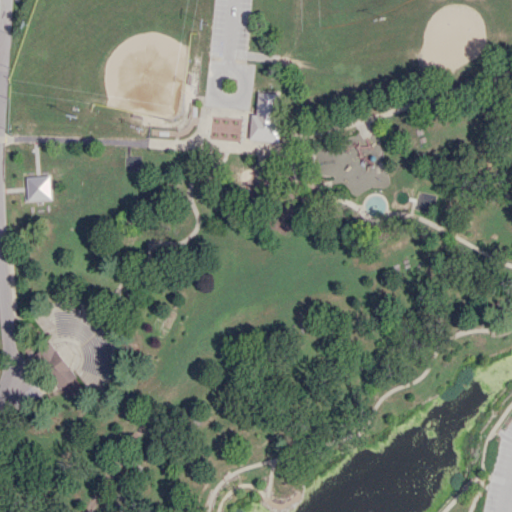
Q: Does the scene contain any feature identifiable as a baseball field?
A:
Yes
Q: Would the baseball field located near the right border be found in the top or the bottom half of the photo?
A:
top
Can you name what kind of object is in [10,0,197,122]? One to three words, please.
baseball field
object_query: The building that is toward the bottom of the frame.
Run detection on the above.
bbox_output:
[38,345,76,392]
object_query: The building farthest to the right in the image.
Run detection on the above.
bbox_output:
[247,92,278,142]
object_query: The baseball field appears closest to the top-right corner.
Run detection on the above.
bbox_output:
[420,3,487,73]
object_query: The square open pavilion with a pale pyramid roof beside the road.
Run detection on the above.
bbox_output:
[25,174,54,203]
